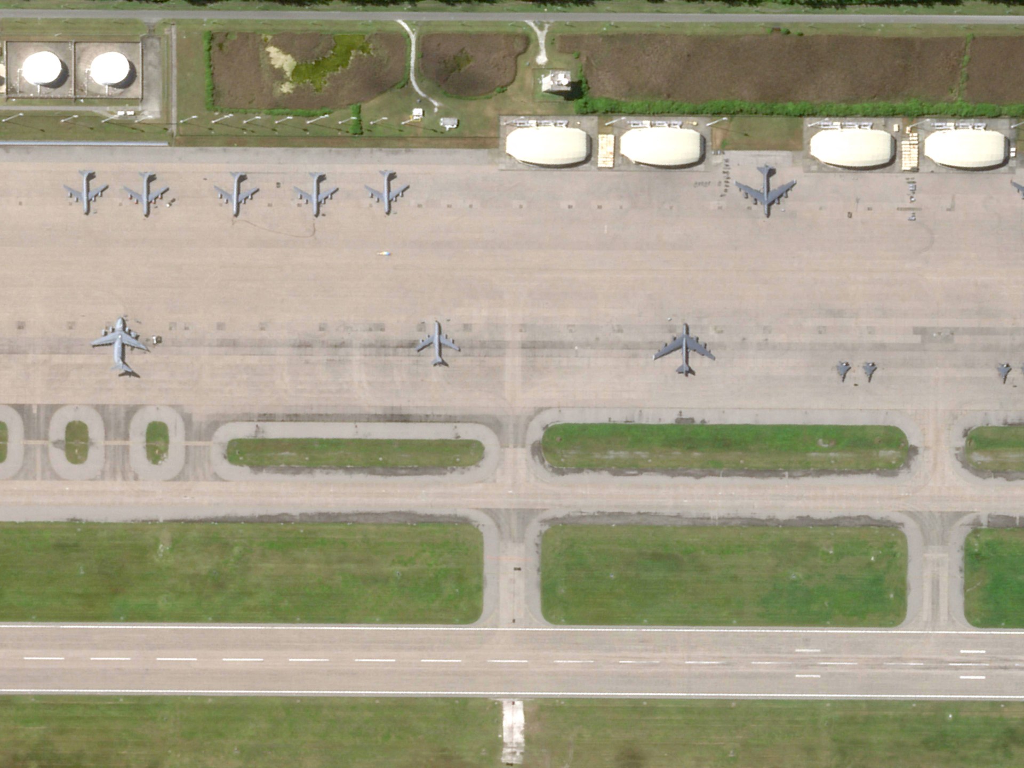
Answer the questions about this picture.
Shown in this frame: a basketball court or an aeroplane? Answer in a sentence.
Looking from above, you can make out an aeroplane.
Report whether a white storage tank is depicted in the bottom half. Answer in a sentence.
No, no white storage tank appears in the bottom half.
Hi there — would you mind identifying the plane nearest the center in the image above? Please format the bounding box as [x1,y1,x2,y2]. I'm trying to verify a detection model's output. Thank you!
[416,321,460,365]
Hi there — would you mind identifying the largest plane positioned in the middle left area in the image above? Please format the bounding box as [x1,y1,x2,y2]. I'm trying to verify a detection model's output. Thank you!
[91,317,148,373]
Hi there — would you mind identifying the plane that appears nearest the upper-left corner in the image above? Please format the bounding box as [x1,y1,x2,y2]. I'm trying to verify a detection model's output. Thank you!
[64,168,109,214]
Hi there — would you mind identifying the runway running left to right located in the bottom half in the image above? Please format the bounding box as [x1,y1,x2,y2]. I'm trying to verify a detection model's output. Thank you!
[0,622,1024,701]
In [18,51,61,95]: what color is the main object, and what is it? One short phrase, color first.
white storage tank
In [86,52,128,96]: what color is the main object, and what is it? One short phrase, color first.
white storage tank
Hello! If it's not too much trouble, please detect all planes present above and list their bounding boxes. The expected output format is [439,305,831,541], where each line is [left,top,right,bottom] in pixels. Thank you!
[654,323,716,373]
[294,171,338,216]
[365,169,409,215]
[91,317,148,373]
[214,170,258,217]
[863,360,877,380]
[837,360,851,380]
[736,164,797,215]
[416,321,460,365]
[124,170,169,216]
[64,168,109,214]
[998,361,1012,380]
